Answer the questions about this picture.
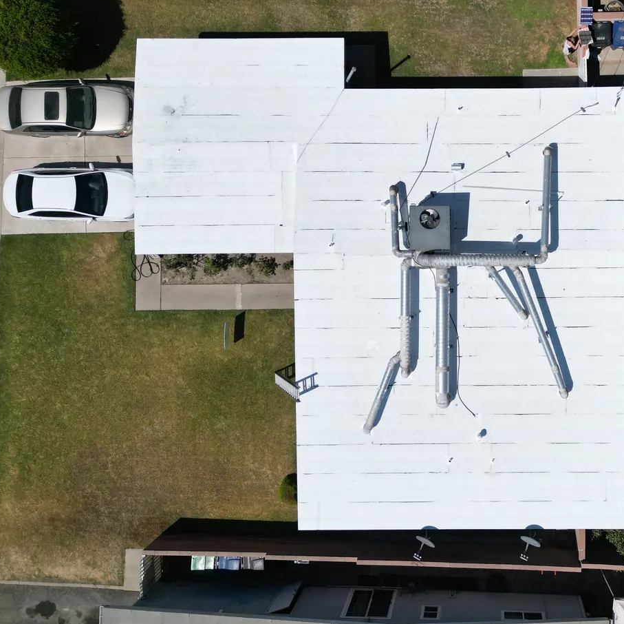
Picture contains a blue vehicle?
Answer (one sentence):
No, the photo shows no blue vehicle.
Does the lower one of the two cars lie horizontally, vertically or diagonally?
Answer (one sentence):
Seen from above, the lower one of the two cars lies horizontally.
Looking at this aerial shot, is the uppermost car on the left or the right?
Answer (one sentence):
The uppermost car appears in the left half of the scene.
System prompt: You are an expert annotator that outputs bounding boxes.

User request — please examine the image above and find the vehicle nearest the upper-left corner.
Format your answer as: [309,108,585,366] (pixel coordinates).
[0,77,133,141]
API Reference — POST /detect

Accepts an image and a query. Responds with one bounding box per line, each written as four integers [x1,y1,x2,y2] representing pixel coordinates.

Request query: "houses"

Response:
[97,584,611,624]
[131,39,624,530]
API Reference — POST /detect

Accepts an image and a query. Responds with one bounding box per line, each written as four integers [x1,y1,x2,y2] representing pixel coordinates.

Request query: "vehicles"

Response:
[0,77,133,141]
[2,164,134,228]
